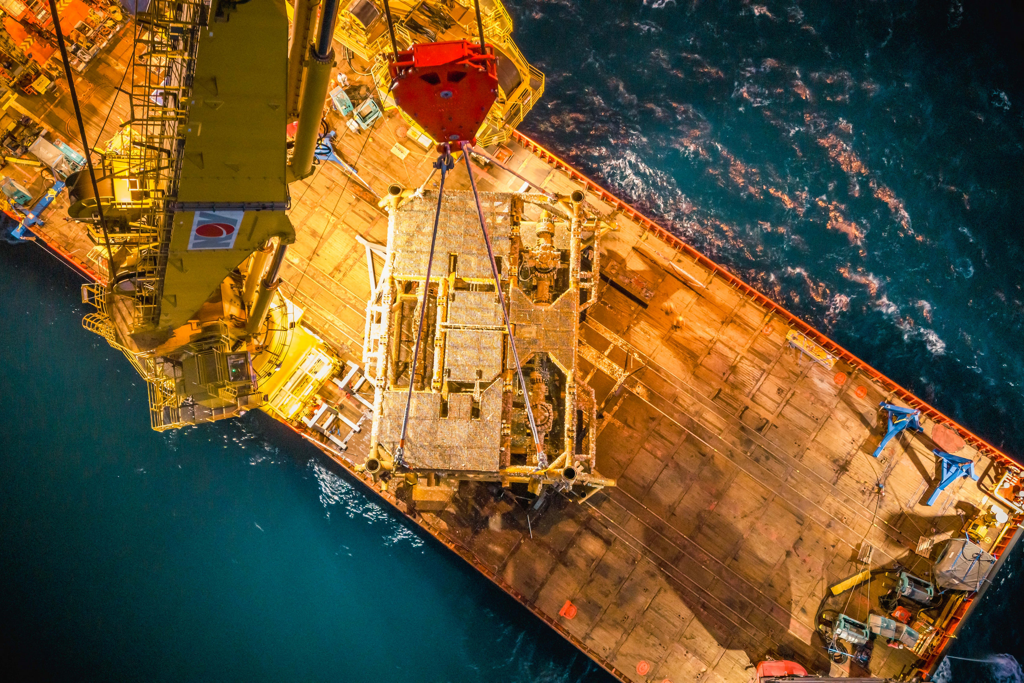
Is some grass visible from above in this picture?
No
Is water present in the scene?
Yes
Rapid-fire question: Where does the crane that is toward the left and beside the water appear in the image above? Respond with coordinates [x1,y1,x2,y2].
[52,0,342,432]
